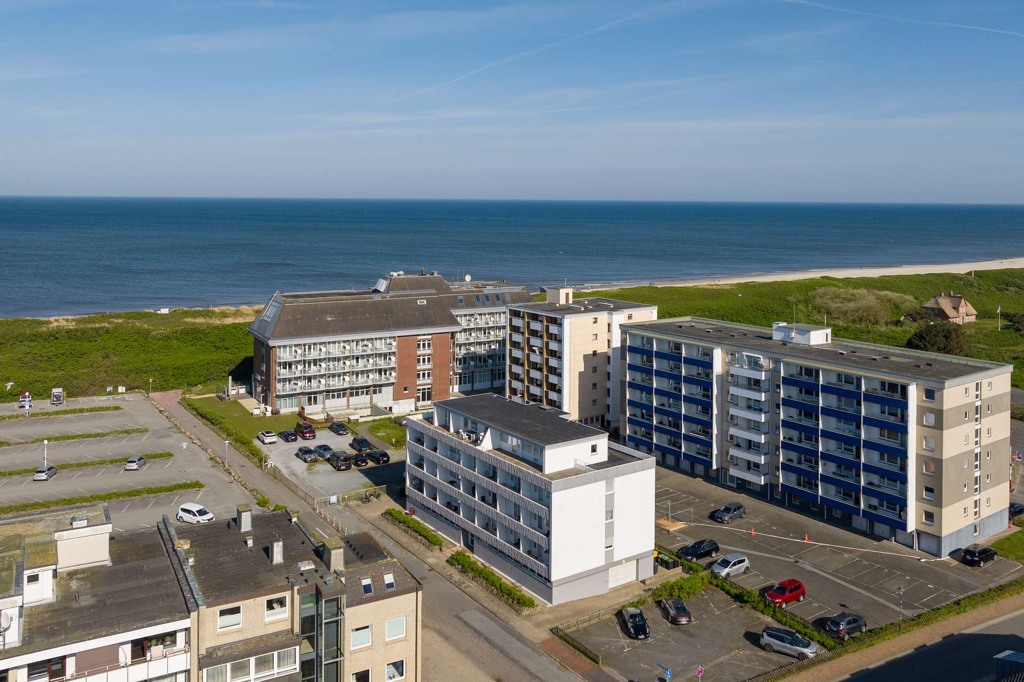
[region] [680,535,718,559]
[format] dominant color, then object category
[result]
black car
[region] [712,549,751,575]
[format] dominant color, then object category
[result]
gray car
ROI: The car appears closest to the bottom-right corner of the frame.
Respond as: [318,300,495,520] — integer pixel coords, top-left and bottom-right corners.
[962,539,998,563]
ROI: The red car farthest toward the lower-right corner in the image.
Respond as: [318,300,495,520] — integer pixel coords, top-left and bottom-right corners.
[766,576,806,605]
